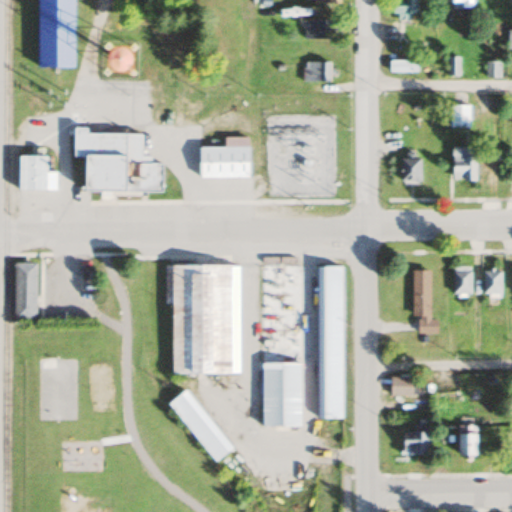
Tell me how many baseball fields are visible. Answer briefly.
none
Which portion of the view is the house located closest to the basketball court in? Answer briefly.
left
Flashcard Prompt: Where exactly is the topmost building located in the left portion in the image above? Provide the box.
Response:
[39,0,76,68]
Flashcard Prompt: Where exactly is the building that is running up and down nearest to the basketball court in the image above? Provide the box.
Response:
[14,262,38,318]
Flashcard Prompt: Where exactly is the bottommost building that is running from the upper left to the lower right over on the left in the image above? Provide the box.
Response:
[170,390,235,464]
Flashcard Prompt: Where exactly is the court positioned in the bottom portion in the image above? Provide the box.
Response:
[40,356,78,424]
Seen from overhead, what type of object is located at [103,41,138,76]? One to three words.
water tower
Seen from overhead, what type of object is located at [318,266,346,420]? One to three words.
building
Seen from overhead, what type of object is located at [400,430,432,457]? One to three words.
house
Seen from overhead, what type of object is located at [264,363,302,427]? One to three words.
shed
